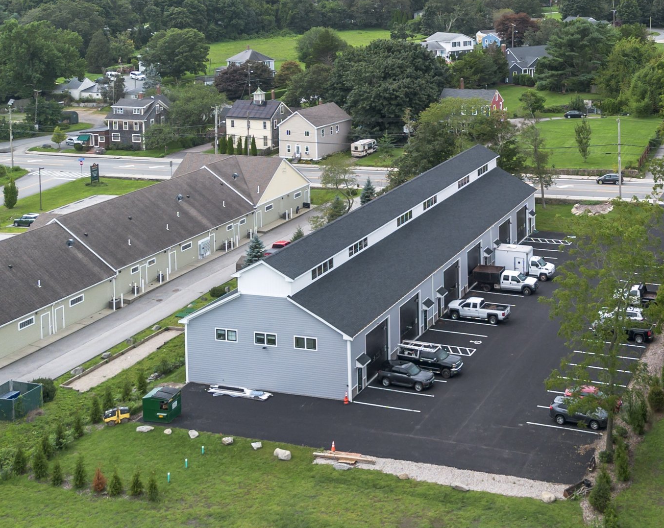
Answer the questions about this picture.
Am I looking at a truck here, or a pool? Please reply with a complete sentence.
Looking from above, you can make out a truck.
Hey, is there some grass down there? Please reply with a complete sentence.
Yes, there's grass in this view.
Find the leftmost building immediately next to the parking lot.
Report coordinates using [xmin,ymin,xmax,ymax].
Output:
[0,151,315,358]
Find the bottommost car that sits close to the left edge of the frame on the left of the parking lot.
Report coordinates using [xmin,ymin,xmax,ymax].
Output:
[10,212,44,226]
